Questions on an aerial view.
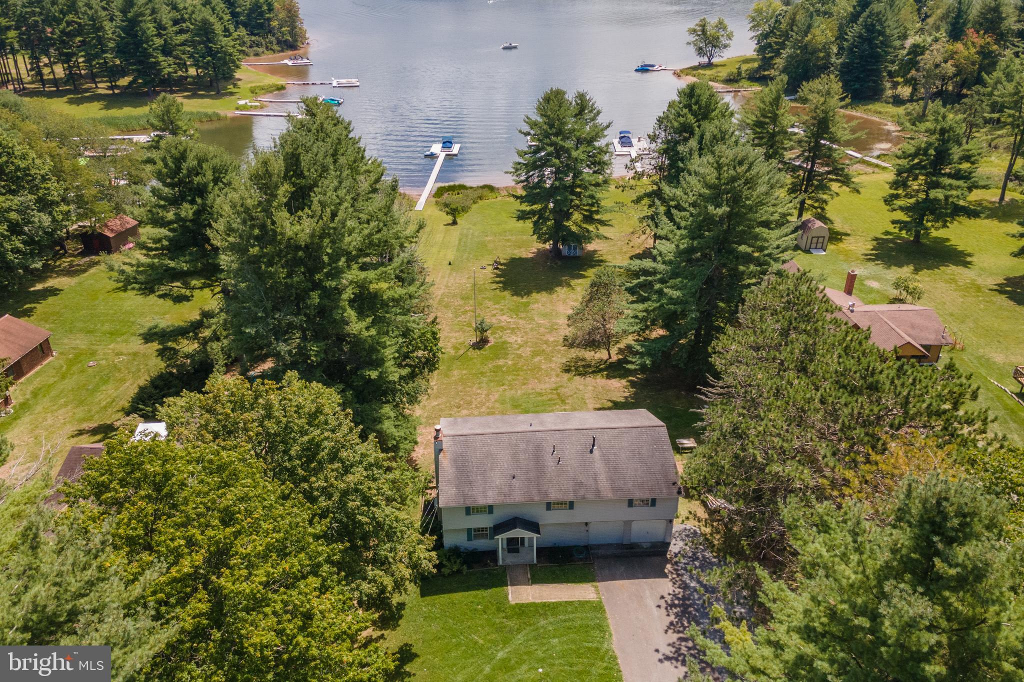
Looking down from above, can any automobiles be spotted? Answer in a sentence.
No, there is no automobile in the image.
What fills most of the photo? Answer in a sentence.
What you mostly see from above here is trees.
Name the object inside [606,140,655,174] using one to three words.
pier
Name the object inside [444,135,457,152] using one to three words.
boat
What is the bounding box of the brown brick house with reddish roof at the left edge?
[0,318,59,403]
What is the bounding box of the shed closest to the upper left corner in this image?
[69,215,123,255]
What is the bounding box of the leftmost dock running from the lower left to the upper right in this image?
[420,144,465,198]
